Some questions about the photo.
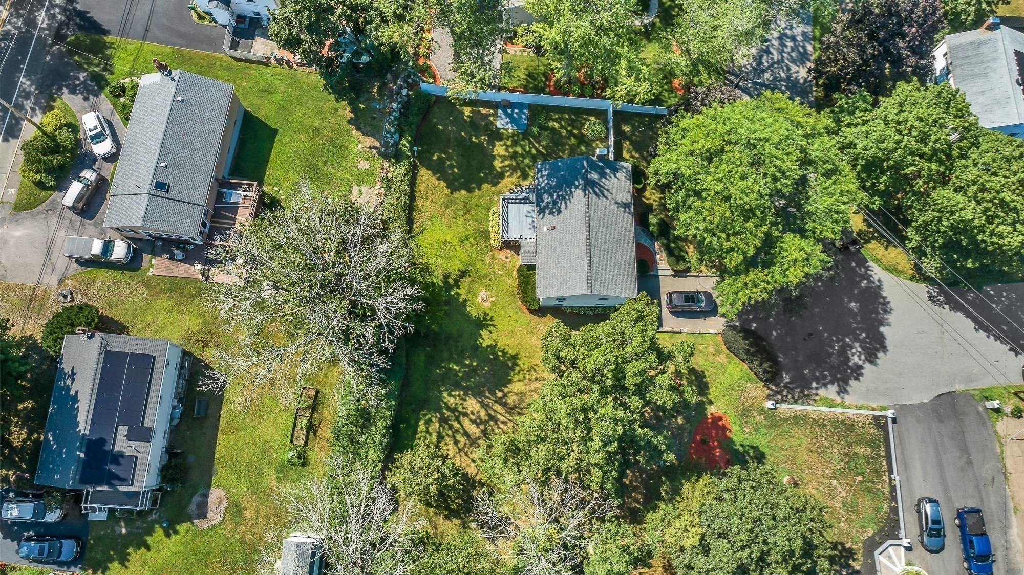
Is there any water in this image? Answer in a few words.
No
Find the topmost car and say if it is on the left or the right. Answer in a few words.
left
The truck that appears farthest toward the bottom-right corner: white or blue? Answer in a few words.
blue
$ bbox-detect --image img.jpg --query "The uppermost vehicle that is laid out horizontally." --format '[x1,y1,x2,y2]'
[66,237,132,263]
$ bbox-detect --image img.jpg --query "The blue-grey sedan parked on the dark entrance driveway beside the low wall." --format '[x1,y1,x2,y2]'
[913,495,947,553]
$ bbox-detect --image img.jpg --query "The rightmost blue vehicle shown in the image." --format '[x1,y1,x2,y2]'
[953,506,995,575]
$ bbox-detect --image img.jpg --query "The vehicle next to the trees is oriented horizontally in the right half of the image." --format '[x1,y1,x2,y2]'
[663,289,714,313]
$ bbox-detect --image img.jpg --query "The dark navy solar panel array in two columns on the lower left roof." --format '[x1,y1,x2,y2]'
[82,351,156,486]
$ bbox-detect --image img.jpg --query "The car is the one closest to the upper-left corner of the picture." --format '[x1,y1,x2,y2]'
[83,112,119,159]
